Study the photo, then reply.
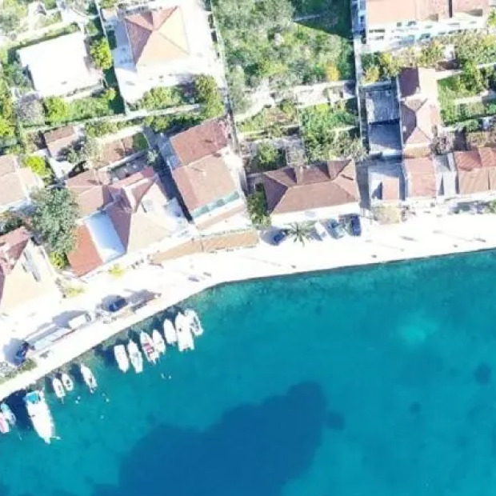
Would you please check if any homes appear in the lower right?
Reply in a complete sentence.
No, the scene shows no home in the lower right.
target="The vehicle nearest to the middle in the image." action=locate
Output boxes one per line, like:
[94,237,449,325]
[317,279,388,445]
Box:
[268,227,289,247]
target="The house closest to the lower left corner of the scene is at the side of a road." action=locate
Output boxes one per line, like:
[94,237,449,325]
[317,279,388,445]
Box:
[0,226,69,314]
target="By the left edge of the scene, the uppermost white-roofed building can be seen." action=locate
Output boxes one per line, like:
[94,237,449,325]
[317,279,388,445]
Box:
[19,31,106,105]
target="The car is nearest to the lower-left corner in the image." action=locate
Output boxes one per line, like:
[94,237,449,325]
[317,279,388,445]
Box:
[12,341,31,363]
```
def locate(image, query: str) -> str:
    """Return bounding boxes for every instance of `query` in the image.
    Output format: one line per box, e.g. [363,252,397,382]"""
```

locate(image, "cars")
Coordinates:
[12,341,31,363]
[350,211,361,236]
[268,227,289,247]
[328,216,345,241]
[103,292,127,312]
[312,220,330,242]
